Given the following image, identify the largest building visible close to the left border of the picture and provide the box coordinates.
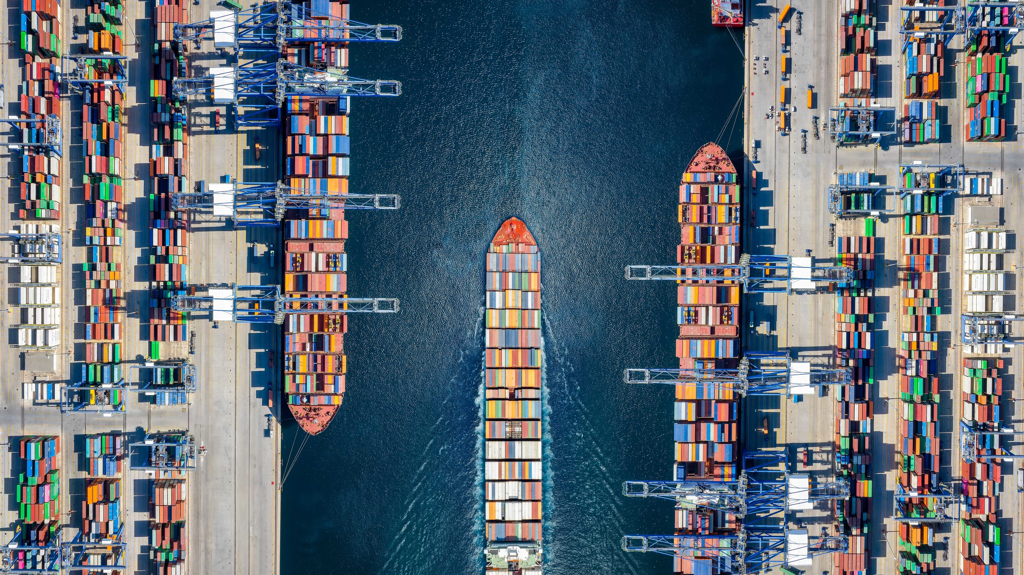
[25,351,63,373]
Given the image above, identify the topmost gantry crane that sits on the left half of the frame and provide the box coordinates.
[170,10,403,67]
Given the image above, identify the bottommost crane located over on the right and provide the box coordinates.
[621,508,854,565]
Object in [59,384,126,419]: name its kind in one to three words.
container crane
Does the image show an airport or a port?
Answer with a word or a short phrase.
port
